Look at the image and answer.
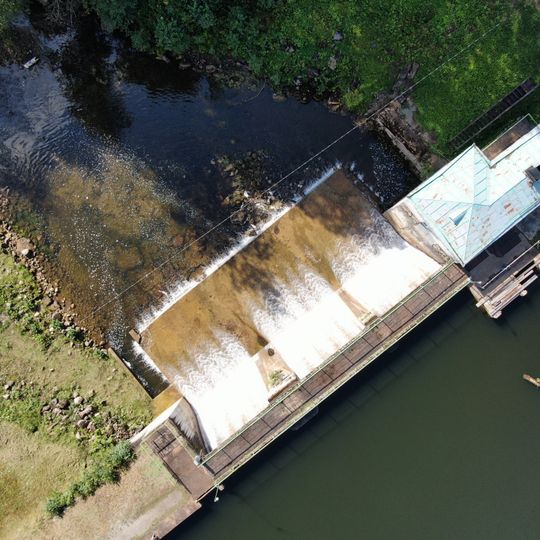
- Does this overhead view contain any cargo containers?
No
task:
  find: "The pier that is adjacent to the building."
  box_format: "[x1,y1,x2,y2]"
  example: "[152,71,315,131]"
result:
[459,237,540,321]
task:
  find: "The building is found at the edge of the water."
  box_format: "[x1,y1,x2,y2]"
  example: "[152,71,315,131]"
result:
[382,121,540,285]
